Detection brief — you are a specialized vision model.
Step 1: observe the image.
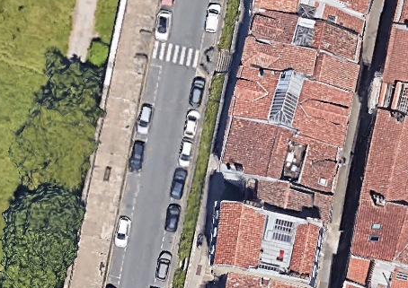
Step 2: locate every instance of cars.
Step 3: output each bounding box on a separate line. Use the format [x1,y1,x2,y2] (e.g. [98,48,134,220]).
[164,201,183,233]
[129,138,149,174]
[156,250,174,282]
[177,137,196,169]
[155,7,174,43]
[189,74,209,110]
[114,214,134,249]
[136,103,156,135]
[203,1,224,37]
[184,107,202,138]
[170,166,189,201]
